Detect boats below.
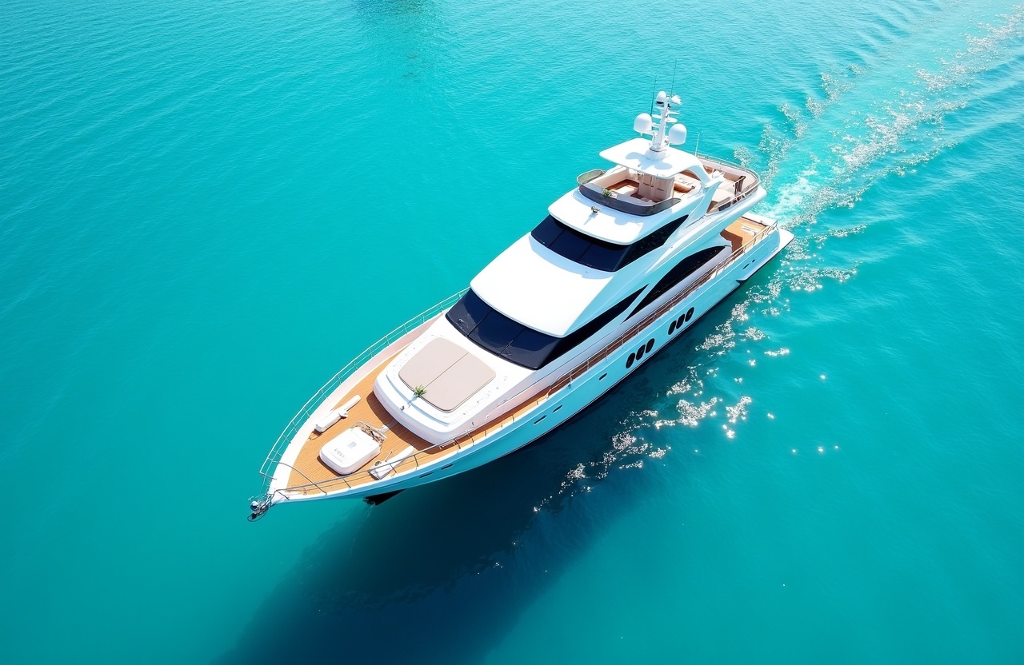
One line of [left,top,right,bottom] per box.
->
[247,55,790,527]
